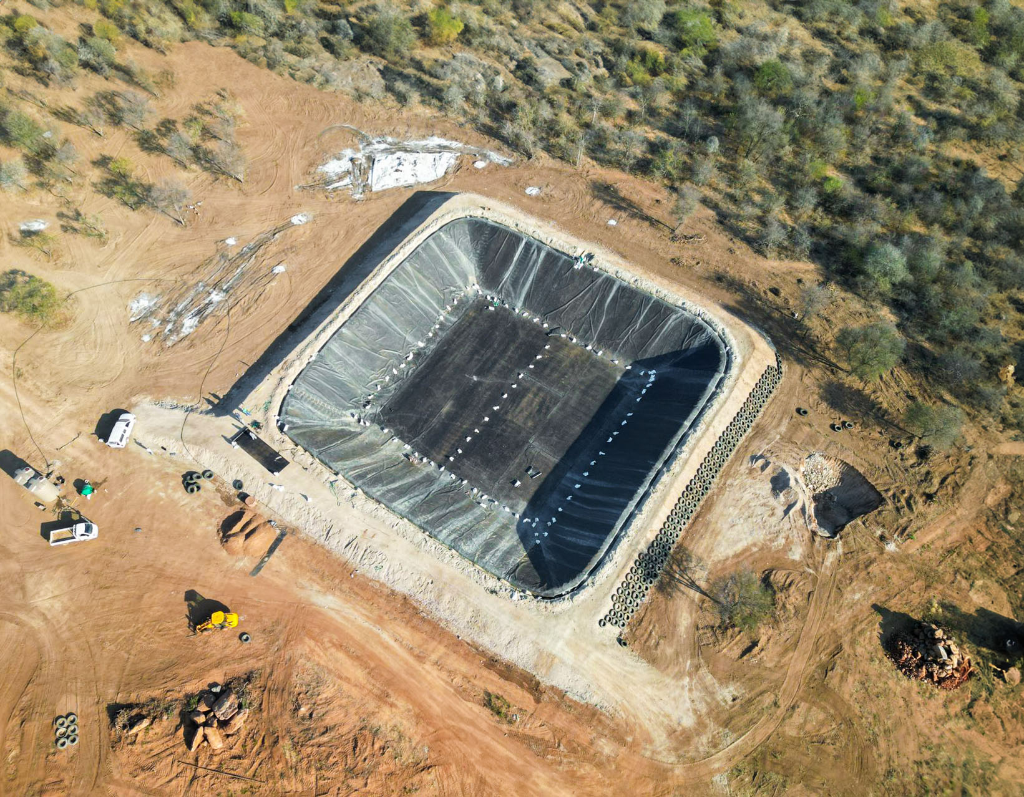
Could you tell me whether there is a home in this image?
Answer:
No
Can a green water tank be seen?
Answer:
No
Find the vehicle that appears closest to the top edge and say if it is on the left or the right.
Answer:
left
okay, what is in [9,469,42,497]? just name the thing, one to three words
water tank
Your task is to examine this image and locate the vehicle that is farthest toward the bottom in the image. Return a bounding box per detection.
[195,611,241,635]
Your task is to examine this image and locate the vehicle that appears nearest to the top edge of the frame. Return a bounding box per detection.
[103,413,137,453]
